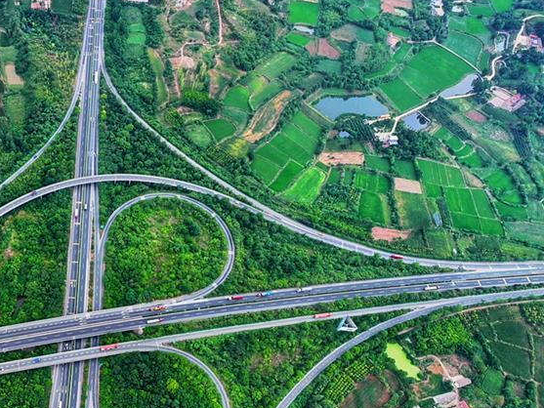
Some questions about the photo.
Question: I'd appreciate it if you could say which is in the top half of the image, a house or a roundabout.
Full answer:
Visible in the top half of the image is a house.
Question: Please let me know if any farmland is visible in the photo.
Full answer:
Yes, farmland shows up in the scene.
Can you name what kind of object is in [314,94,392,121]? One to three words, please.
pond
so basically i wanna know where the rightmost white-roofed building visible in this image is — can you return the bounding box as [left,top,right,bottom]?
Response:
[513,33,544,54]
